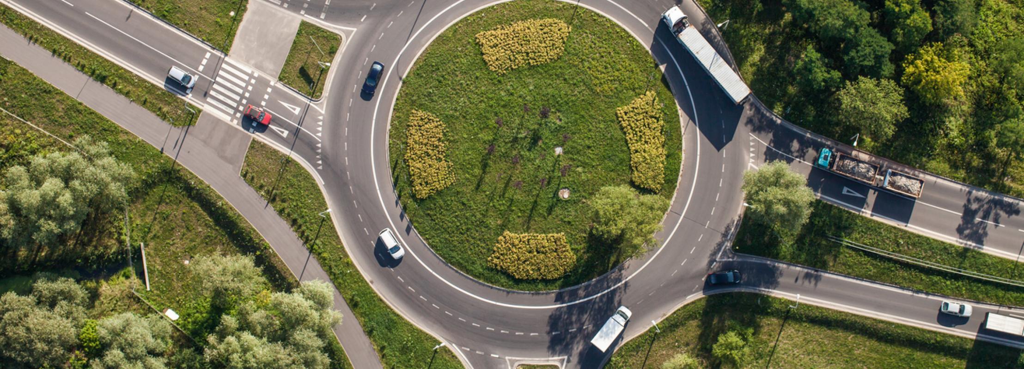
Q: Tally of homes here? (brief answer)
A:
0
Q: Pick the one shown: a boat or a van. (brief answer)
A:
van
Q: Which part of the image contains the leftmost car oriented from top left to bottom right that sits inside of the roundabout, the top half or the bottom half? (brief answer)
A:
bottom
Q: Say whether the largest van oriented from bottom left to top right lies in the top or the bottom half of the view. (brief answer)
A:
bottom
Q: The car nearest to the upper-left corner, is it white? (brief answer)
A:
Yes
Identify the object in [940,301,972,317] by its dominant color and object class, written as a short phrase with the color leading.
white car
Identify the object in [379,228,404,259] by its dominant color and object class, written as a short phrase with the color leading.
white car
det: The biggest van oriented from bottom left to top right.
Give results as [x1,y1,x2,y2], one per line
[590,305,632,352]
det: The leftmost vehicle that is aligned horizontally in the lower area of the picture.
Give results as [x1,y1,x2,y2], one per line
[707,270,741,285]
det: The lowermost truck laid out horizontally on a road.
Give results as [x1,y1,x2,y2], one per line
[982,313,1024,337]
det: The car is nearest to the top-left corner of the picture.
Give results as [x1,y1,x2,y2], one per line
[166,65,197,88]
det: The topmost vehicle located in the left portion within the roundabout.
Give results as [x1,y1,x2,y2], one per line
[362,60,384,95]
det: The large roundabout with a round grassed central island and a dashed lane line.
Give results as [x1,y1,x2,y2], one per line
[327,0,745,355]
